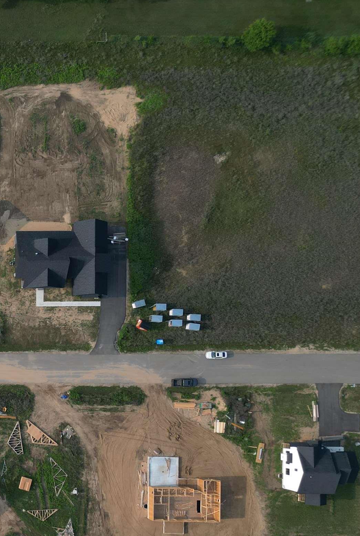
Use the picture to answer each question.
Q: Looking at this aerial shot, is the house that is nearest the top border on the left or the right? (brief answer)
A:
left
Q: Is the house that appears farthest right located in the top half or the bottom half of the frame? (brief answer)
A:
bottom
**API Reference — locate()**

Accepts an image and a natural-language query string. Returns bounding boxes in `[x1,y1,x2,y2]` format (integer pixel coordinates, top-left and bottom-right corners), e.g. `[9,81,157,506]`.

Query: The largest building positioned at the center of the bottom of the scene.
[142,455,221,534]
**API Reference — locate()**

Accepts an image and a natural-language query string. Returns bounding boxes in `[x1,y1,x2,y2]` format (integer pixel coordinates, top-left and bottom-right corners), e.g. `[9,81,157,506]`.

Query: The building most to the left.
[8,215,107,294]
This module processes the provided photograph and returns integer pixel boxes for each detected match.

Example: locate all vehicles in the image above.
[170,377,198,388]
[205,350,228,360]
